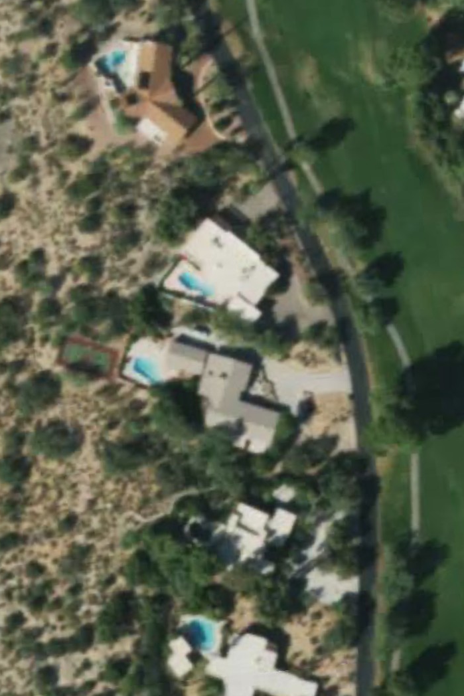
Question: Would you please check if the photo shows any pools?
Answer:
Yes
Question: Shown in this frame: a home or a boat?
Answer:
home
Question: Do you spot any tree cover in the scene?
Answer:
Yes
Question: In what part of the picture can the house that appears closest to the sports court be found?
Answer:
center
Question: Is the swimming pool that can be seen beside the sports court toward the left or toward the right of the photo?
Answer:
left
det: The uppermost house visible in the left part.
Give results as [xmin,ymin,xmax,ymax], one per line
[124,41,196,148]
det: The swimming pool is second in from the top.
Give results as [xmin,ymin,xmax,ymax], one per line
[178,271,215,298]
